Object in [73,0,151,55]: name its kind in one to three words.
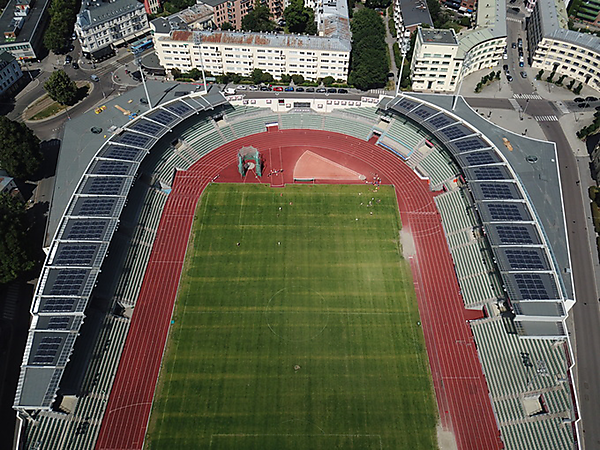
building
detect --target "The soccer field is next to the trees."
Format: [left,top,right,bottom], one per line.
[145,184,444,450]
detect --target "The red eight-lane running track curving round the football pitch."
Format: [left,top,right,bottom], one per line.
[98,128,502,450]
